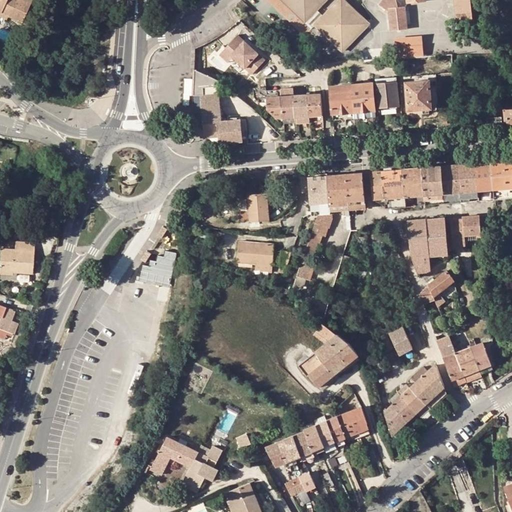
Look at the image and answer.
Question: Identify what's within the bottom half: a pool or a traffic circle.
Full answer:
You can see a pool within the bottom half.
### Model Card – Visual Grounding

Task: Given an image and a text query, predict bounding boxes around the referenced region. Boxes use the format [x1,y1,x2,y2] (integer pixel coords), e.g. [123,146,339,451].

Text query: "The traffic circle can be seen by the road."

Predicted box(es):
[88,131,174,216]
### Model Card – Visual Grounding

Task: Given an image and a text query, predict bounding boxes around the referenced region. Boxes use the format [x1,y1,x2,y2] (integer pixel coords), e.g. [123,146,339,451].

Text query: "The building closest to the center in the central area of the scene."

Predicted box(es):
[236,240,274,274]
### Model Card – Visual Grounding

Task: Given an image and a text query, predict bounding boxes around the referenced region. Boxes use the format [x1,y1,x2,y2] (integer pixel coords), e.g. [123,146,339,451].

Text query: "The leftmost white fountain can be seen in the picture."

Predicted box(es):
[120,164,138,182]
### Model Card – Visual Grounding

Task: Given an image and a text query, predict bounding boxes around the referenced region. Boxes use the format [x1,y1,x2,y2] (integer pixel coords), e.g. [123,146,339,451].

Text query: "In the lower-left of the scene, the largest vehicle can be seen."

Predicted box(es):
[127,366,146,396]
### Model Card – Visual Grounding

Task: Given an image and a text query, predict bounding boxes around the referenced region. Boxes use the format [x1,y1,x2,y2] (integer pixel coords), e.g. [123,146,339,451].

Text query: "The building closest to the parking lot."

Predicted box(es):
[138,250,176,286]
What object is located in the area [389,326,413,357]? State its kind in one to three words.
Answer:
shed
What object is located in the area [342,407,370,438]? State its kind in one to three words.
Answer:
house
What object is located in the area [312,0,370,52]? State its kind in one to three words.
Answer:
building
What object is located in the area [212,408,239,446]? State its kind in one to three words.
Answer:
swimming pool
